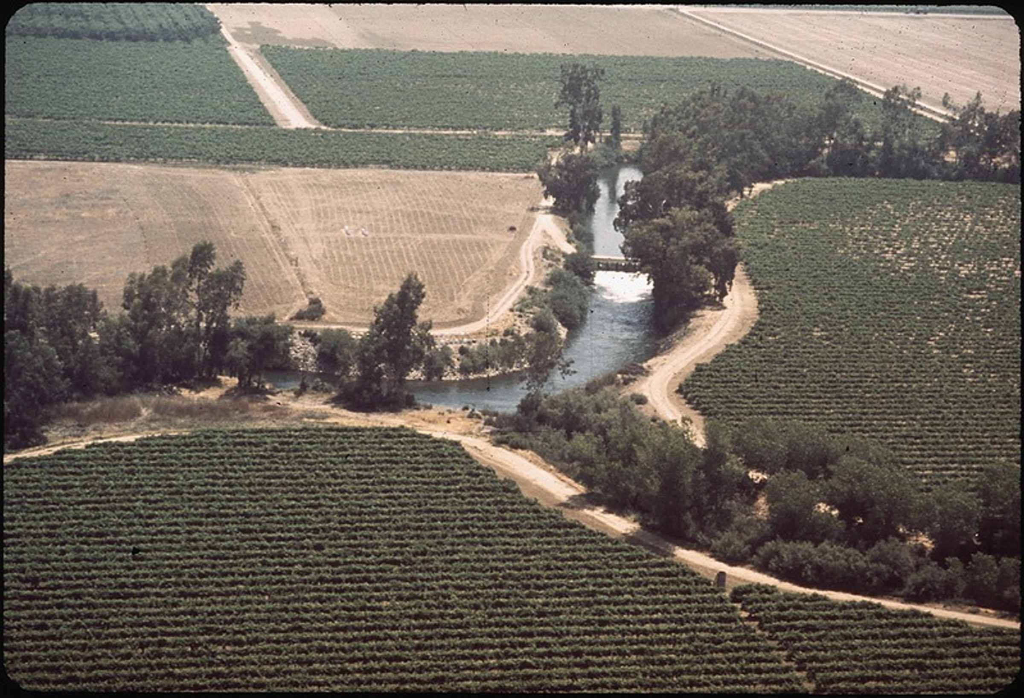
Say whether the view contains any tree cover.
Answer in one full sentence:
Yes, the picture does contain tree cover.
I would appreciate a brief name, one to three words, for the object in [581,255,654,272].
dam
